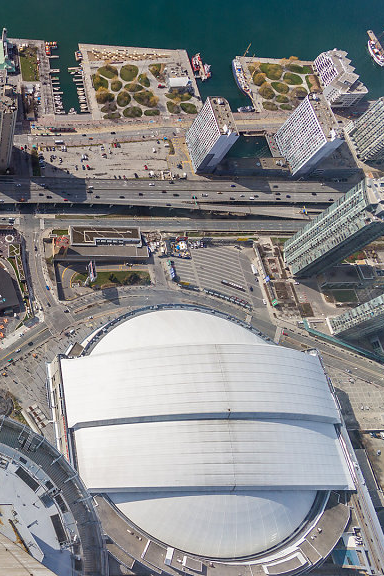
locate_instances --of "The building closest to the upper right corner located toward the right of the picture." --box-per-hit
[297,49,368,117]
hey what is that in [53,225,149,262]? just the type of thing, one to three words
building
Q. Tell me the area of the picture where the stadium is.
bottom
